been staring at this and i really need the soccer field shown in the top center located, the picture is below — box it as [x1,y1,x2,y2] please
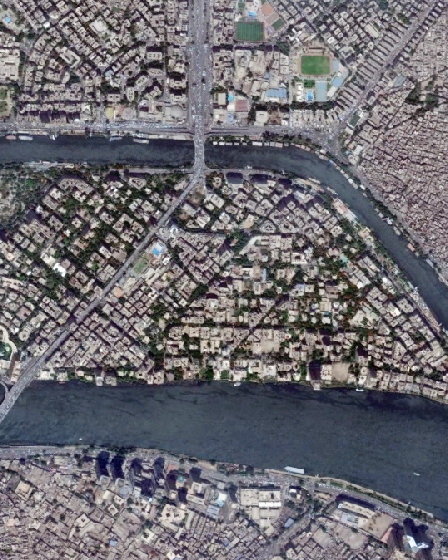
[235,20,265,42]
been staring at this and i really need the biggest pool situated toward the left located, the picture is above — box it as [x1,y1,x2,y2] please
[147,242,166,257]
